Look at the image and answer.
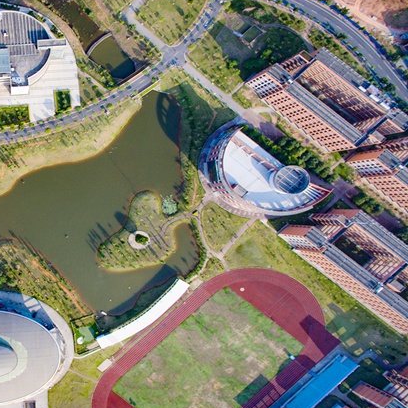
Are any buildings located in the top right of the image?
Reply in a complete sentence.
Yes, a building appears in the top right of the image.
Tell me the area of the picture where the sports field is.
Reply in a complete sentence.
The sports field sits in the bottom section of the image.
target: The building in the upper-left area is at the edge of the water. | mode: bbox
[0,9,66,97]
